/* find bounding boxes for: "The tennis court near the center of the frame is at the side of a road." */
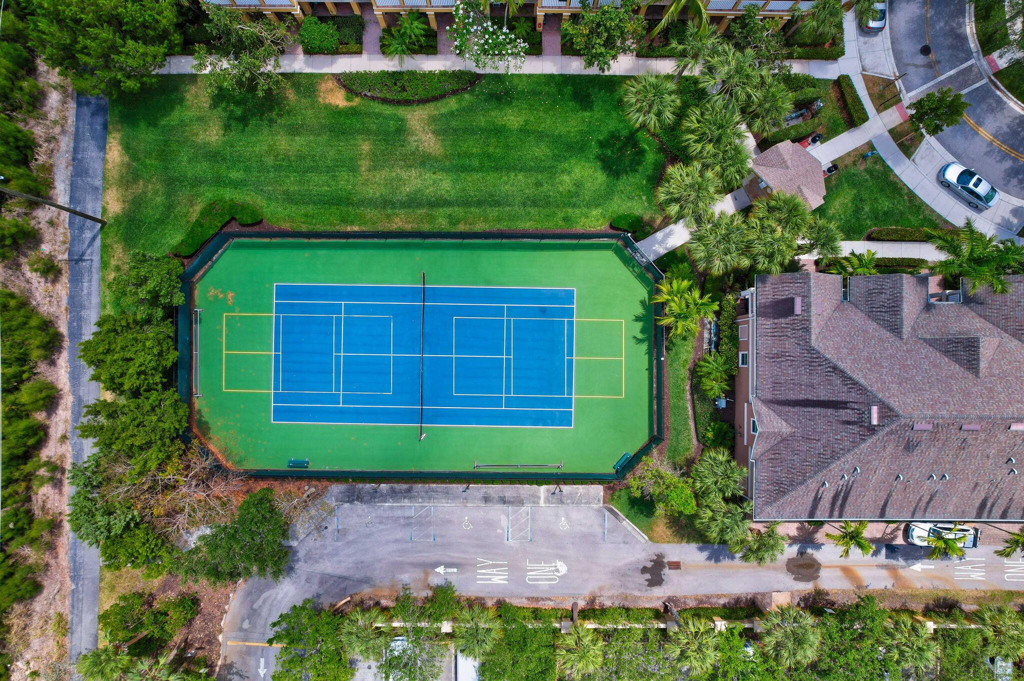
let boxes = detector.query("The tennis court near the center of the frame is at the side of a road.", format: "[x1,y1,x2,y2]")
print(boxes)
[195,241,652,471]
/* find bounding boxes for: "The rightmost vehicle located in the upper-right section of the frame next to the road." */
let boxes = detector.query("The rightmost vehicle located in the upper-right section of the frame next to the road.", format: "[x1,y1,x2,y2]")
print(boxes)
[940,159,1005,207]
